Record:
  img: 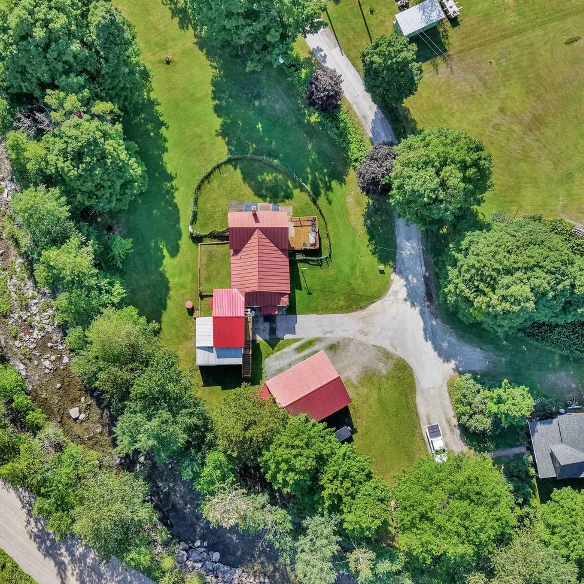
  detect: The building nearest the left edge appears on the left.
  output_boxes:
[197,289,245,365]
